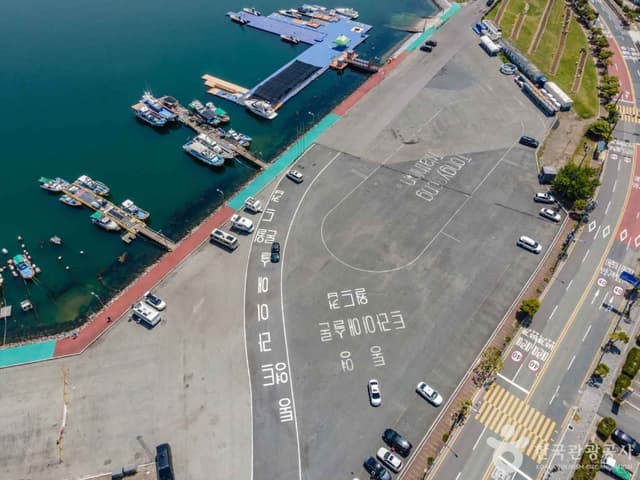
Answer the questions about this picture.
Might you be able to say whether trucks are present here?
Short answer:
Yes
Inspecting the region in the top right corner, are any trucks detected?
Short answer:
Yes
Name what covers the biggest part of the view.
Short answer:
paved ground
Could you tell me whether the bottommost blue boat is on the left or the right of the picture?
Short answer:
left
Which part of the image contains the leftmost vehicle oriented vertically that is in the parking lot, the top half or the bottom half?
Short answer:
bottom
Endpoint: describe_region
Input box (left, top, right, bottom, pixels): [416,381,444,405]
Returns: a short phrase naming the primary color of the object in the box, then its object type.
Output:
white car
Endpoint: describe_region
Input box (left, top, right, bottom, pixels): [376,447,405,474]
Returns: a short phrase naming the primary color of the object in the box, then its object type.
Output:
white car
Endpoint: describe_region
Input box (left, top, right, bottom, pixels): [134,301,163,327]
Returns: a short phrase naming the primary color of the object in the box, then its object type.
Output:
white vehicle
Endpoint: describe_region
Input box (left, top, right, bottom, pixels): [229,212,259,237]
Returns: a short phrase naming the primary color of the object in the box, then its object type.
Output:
white vehicle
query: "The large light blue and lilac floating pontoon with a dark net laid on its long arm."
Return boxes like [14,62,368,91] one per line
[226,10,372,108]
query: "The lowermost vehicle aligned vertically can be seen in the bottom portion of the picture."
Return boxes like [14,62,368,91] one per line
[156,439,176,480]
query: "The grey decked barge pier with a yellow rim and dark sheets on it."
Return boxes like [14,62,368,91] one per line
[61,182,147,232]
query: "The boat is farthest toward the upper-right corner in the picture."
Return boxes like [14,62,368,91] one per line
[336,5,361,18]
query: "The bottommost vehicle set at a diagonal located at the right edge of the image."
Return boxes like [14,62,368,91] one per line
[597,452,635,480]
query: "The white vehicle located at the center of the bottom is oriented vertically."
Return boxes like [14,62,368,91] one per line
[369,378,382,407]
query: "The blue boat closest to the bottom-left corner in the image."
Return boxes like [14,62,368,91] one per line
[14,251,34,279]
